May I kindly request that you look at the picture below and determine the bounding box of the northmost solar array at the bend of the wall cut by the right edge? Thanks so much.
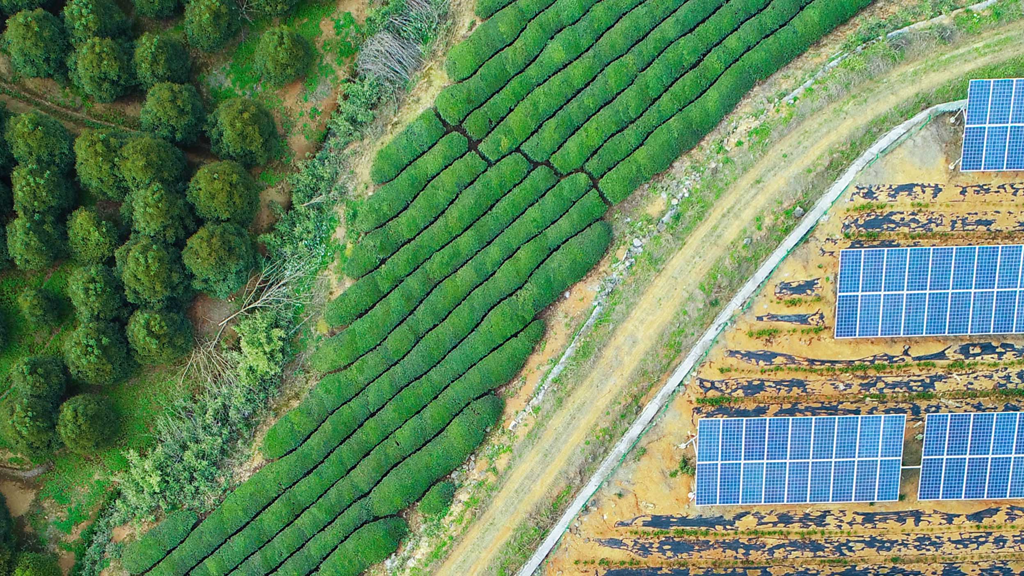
[948,79,1024,171]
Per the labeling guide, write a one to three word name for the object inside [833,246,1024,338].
solar array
